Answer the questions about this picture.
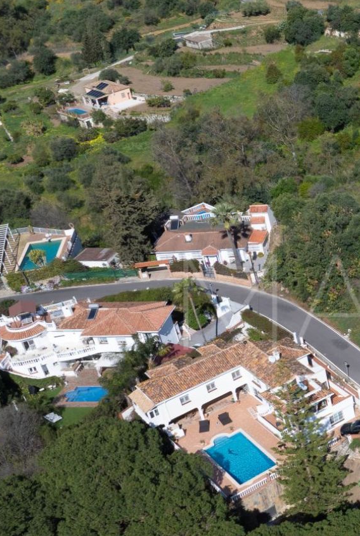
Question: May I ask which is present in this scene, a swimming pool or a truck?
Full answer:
Visible in the photo is a swimming pool.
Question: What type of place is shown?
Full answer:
This looks like a residential area.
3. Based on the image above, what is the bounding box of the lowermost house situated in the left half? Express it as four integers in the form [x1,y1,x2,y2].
[0,296,183,381]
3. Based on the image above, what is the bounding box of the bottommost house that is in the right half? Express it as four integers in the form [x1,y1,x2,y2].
[128,319,355,440]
